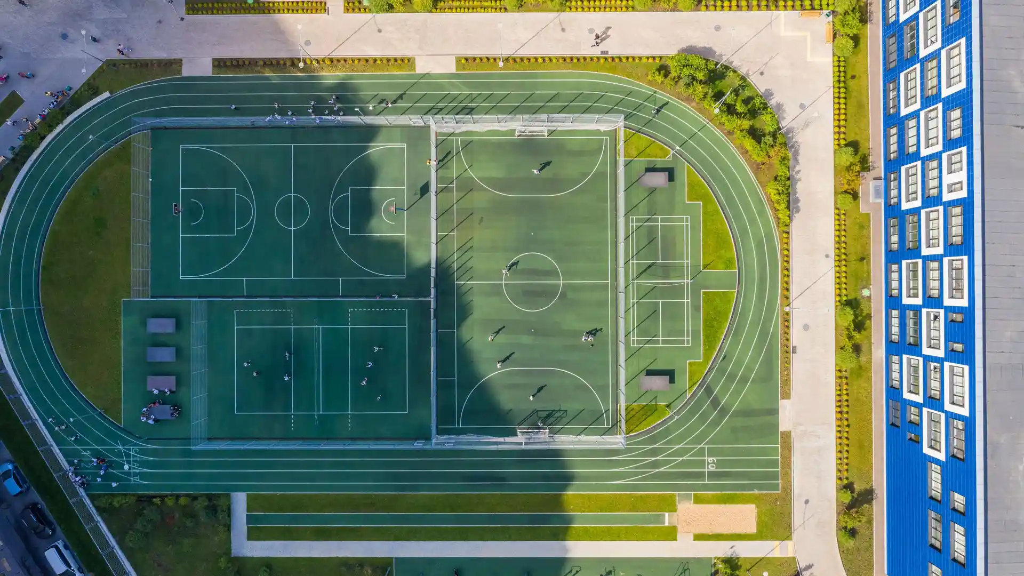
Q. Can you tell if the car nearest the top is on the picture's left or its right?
left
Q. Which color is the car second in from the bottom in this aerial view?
black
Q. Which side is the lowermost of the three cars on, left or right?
left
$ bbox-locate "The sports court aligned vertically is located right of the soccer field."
[617,132,737,435]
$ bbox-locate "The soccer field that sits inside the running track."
[437,128,617,439]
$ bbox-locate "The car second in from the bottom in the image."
[19,501,59,544]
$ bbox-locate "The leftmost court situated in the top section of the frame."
[151,126,436,297]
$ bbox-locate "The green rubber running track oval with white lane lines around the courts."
[0,72,782,493]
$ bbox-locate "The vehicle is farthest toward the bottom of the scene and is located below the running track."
[51,541,93,576]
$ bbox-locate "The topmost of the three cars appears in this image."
[0,463,34,503]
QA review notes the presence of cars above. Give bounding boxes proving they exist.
[19,501,59,544]
[0,463,34,503]
[51,541,93,576]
